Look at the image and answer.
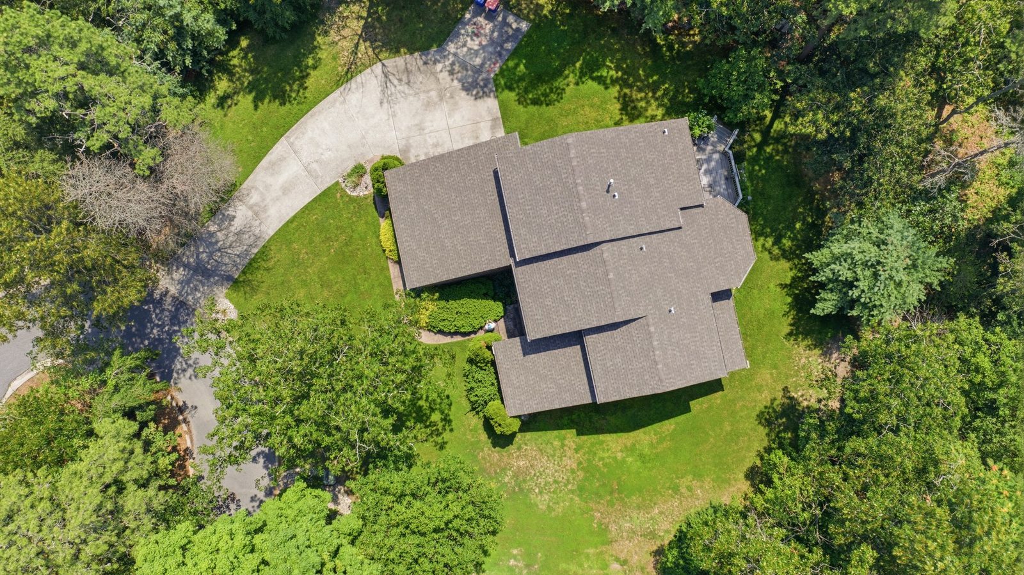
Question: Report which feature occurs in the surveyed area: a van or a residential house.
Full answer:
The one in the frame is a residential house.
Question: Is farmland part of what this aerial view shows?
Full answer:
No, there is no farmland in the image.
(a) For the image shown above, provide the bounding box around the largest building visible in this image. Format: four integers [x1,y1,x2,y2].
[383,117,758,416]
